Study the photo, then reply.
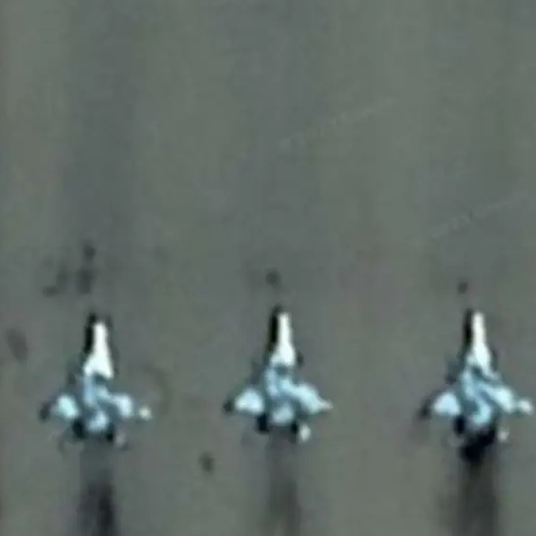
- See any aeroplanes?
Yes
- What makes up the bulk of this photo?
paved ground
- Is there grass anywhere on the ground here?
No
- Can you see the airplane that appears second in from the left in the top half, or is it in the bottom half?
bottom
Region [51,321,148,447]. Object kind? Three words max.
airplane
